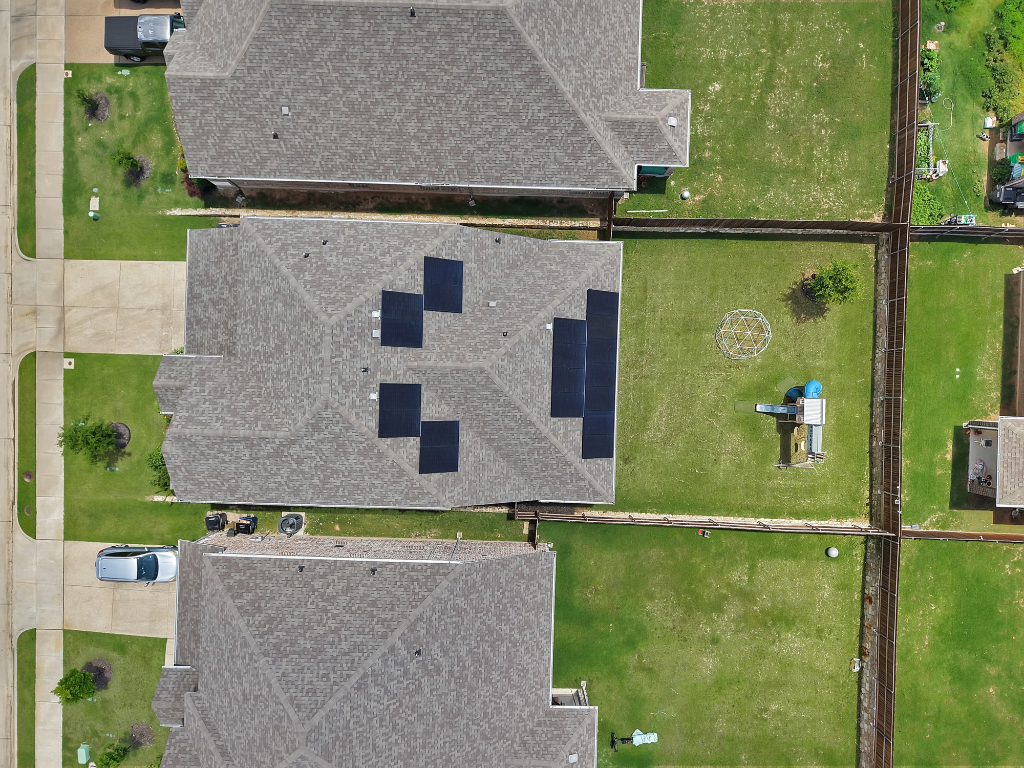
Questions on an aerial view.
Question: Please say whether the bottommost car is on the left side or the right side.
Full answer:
You can find the bottommost car on the left side of the picture.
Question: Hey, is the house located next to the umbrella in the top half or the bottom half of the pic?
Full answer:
It is in the bottom half that the house located next to the umbrella appears.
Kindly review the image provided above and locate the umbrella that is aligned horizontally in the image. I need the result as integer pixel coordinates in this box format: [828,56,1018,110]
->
[610,728,659,751]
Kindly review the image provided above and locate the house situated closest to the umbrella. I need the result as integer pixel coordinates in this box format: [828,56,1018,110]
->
[152,528,601,768]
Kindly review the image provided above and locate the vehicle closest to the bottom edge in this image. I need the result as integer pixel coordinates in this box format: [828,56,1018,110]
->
[93,541,174,590]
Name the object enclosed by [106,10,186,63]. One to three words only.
truck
